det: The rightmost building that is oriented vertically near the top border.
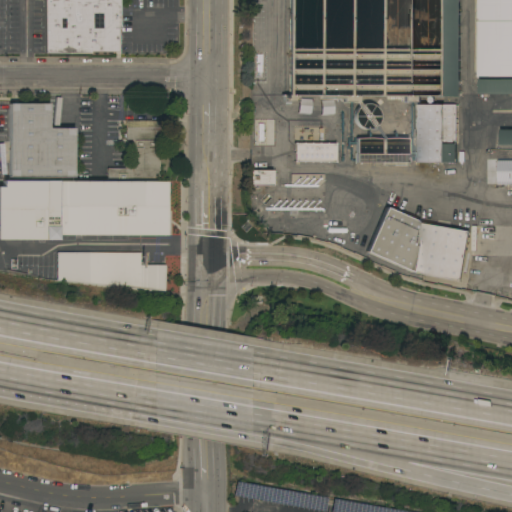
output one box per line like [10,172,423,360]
[476,0,512,78]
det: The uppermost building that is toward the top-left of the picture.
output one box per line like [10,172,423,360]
[47,0,123,54]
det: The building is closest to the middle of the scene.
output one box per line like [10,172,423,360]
[253,170,276,186]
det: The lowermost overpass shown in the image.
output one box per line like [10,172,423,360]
[157,320,253,448]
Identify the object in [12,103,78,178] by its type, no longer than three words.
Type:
building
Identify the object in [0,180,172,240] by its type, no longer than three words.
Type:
building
